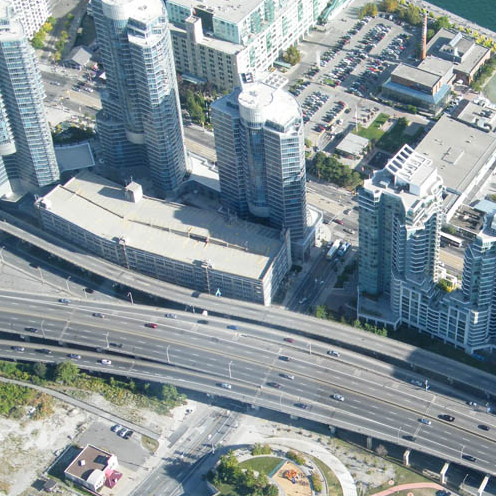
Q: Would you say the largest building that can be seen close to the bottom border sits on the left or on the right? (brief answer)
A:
left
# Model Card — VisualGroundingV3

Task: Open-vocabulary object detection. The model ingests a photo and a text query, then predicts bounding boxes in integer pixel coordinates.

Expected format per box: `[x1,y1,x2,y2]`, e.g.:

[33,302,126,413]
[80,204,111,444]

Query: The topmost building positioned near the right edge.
[422,28,493,81]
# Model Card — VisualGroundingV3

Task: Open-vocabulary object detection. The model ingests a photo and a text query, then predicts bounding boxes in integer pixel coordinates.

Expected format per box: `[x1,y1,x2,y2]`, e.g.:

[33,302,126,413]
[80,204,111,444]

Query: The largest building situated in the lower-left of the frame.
[65,443,121,490]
